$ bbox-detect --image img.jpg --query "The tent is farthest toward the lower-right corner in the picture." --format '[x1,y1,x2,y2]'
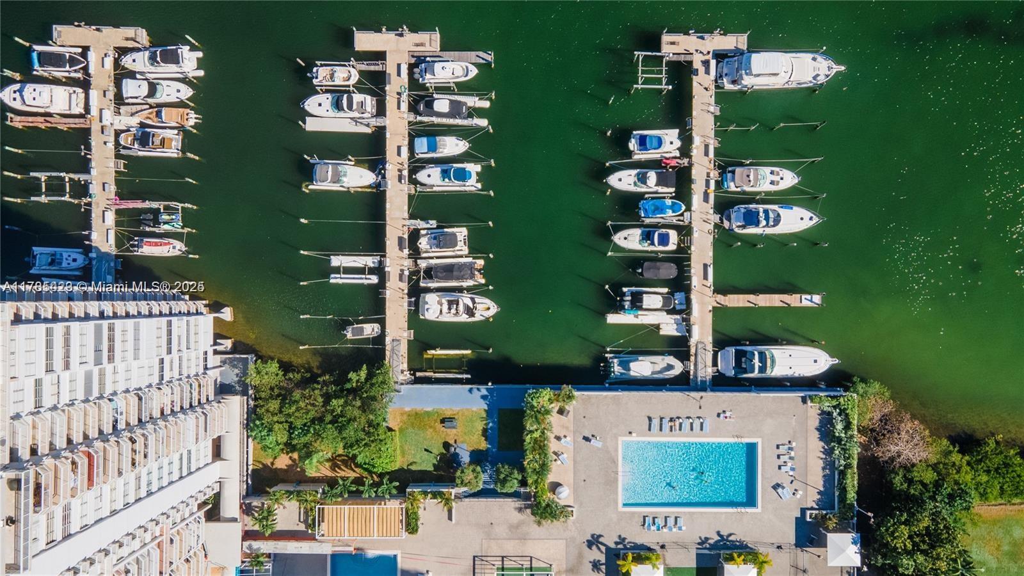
[821,527,861,567]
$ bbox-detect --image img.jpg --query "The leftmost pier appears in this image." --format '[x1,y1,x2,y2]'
[8,114,91,128]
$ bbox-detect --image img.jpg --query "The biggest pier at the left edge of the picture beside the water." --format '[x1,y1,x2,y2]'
[50,24,147,289]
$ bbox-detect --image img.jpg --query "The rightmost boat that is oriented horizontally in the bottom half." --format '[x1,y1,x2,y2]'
[716,346,843,377]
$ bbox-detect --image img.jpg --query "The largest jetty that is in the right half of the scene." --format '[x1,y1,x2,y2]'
[661,32,748,384]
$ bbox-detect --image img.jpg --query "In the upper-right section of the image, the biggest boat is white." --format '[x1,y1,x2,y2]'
[715,52,848,94]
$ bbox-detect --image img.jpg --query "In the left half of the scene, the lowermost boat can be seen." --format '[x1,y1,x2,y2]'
[340,324,382,339]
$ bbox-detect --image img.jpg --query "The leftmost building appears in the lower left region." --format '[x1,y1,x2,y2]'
[0,284,230,576]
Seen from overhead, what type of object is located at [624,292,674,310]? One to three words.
boat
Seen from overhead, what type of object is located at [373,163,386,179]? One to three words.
vessel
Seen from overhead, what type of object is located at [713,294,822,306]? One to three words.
pier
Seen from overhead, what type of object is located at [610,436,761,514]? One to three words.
swimming pool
